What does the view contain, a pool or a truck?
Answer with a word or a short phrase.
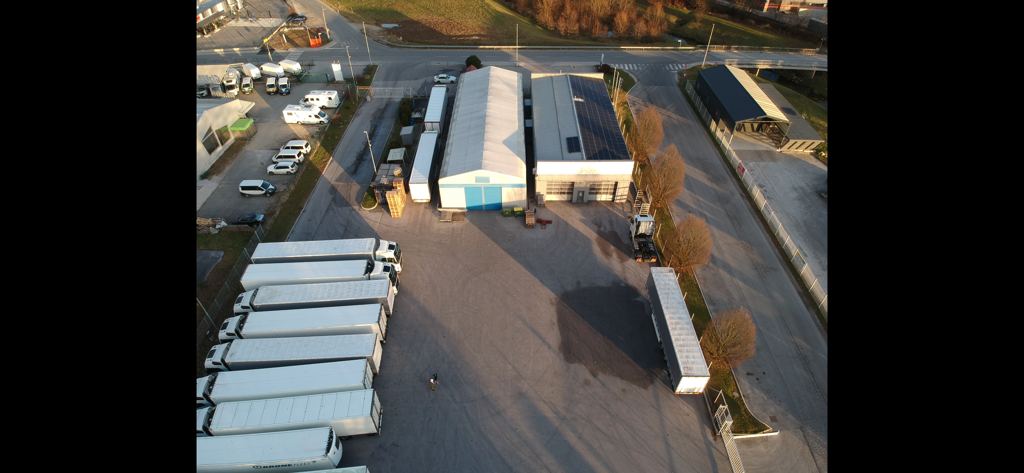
truck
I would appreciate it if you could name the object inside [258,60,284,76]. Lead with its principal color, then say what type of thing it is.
white vehicle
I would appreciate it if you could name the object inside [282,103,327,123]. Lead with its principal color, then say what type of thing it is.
white camper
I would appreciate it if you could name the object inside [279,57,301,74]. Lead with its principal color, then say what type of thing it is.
white vehicle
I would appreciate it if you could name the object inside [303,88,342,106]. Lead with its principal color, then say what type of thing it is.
white camper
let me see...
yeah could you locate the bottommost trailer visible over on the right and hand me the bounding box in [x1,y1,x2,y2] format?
[646,269,710,396]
